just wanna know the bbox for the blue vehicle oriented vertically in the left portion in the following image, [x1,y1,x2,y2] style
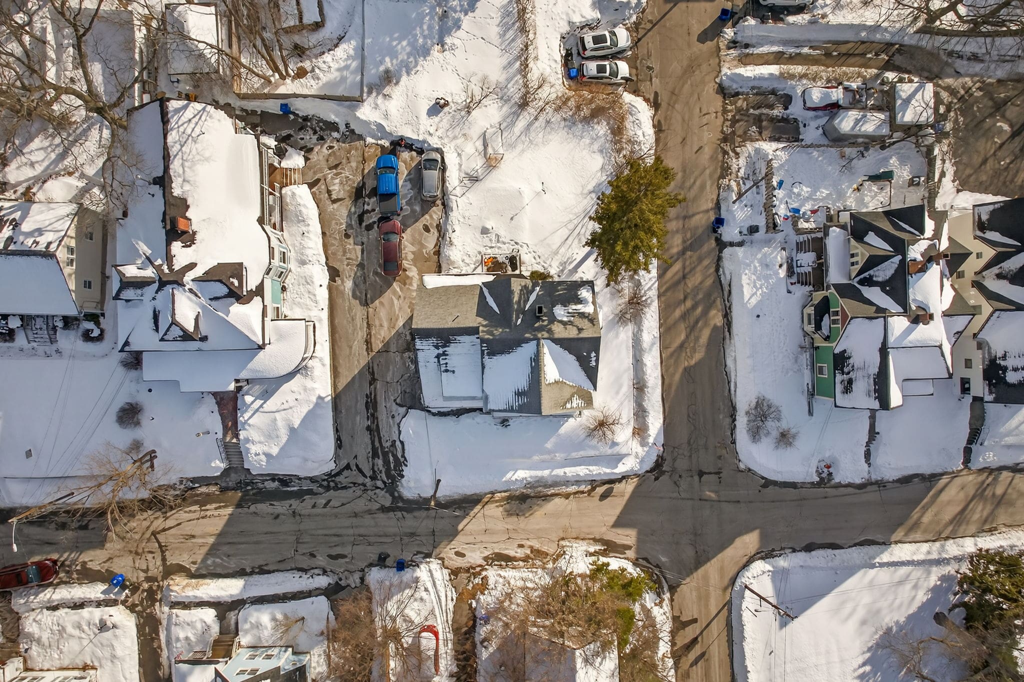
[371,152,399,220]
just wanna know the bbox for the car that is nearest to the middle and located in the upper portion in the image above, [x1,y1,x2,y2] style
[376,220,403,277]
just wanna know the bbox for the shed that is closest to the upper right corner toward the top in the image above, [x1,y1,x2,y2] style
[889,82,935,127]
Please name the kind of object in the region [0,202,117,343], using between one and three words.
house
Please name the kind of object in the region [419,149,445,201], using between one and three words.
car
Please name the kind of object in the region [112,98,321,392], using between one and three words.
house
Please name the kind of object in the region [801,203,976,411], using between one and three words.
building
